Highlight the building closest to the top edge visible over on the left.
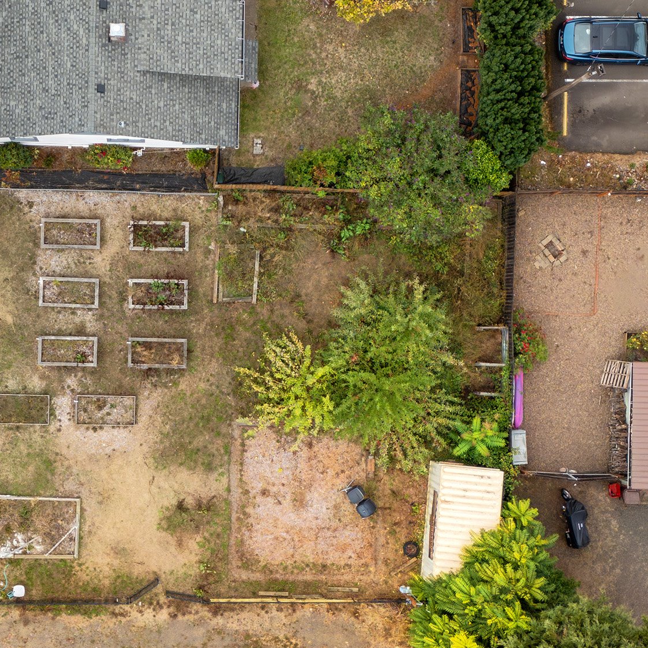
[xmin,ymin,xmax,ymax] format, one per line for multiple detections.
[0,0,259,155]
